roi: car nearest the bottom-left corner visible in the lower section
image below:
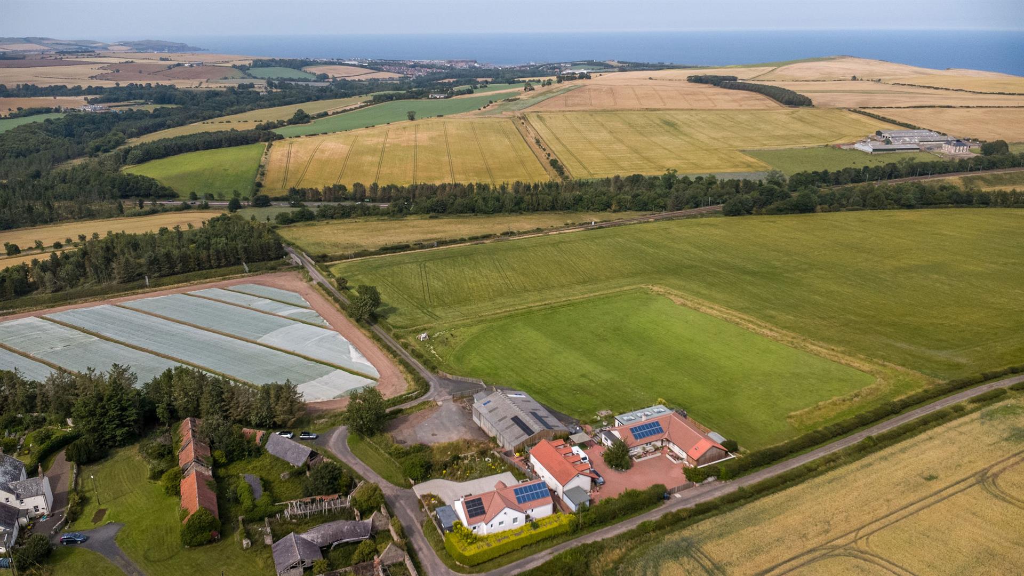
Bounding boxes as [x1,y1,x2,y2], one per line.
[60,534,89,547]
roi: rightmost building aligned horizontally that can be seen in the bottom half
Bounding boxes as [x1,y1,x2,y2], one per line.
[589,405,729,468]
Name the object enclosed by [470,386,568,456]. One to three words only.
barn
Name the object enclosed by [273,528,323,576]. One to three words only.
barn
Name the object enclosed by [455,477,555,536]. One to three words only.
house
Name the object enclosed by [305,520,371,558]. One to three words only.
building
